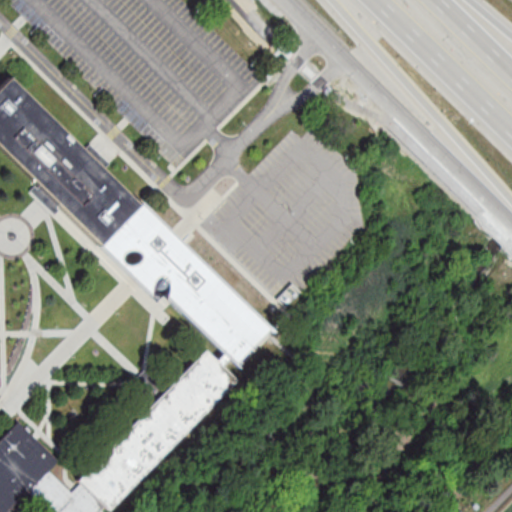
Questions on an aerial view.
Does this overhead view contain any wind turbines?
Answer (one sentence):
No, no wind turbine can be seen from above.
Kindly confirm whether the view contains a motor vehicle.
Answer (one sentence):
No, I can see no motor vehicle in this picture.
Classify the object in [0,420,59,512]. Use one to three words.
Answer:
building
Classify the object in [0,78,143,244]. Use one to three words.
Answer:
building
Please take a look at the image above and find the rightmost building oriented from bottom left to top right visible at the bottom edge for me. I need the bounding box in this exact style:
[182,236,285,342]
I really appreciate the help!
[80,350,230,512]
